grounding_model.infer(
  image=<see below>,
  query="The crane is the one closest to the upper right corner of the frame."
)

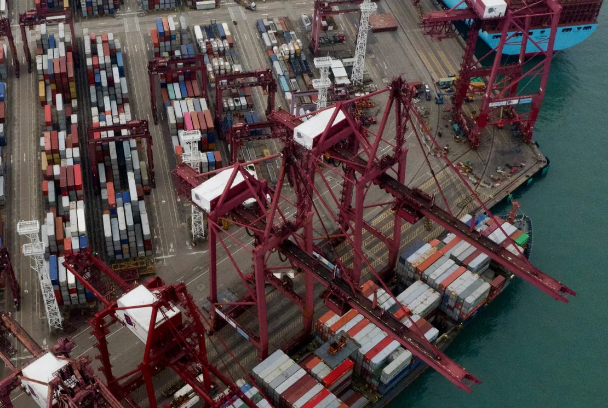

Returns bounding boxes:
[417,0,576,150]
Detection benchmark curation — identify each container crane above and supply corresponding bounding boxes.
[417,0,576,150]
[0,244,18,314]
[230,103,294,166]
[309,0,365,57]
[15,8,80,72]
[0,300,121,408]
[148,55,212,123]
[0,18,18,77]
[214,66,275,133]
[272,74,582,303]
[168,146,479,402]
[65,246,283,408]
[85,120,156,193]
